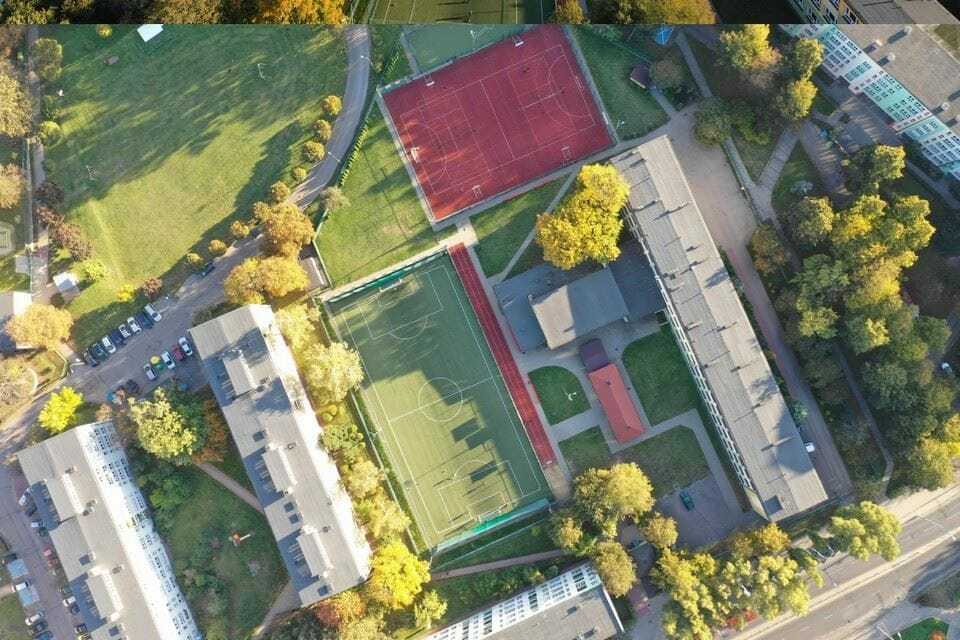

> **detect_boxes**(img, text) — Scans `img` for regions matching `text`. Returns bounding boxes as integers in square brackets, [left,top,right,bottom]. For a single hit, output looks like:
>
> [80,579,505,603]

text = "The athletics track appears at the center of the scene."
[449,241,556,466]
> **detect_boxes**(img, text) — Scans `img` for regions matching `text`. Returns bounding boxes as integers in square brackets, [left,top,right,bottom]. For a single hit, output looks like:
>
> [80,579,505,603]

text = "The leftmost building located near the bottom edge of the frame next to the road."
[16,422,198,640]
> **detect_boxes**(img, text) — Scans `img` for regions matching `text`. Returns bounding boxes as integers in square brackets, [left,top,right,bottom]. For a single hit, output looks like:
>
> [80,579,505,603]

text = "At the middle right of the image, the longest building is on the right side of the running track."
[606,134,822,522]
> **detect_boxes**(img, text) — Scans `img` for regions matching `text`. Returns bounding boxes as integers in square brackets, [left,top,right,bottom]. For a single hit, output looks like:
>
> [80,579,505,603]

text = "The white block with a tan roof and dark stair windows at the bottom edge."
[445,559,634,640]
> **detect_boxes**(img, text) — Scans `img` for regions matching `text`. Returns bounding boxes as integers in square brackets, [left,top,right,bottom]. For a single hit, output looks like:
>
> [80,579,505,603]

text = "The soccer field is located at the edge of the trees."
[327,253,549,549]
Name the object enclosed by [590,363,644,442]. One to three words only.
building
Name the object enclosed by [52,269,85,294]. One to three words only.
shed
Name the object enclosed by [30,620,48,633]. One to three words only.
vehicle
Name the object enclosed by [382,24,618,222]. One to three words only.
sports court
